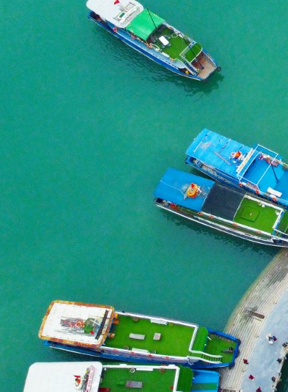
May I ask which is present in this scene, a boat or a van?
boat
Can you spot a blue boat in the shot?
Yes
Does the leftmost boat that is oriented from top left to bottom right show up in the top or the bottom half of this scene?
top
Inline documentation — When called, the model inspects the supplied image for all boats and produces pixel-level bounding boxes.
[22,362,223,392]
[151,167,288,250]
[183,131,288,211]
[35,304,241,369]
[85,0,218,83]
